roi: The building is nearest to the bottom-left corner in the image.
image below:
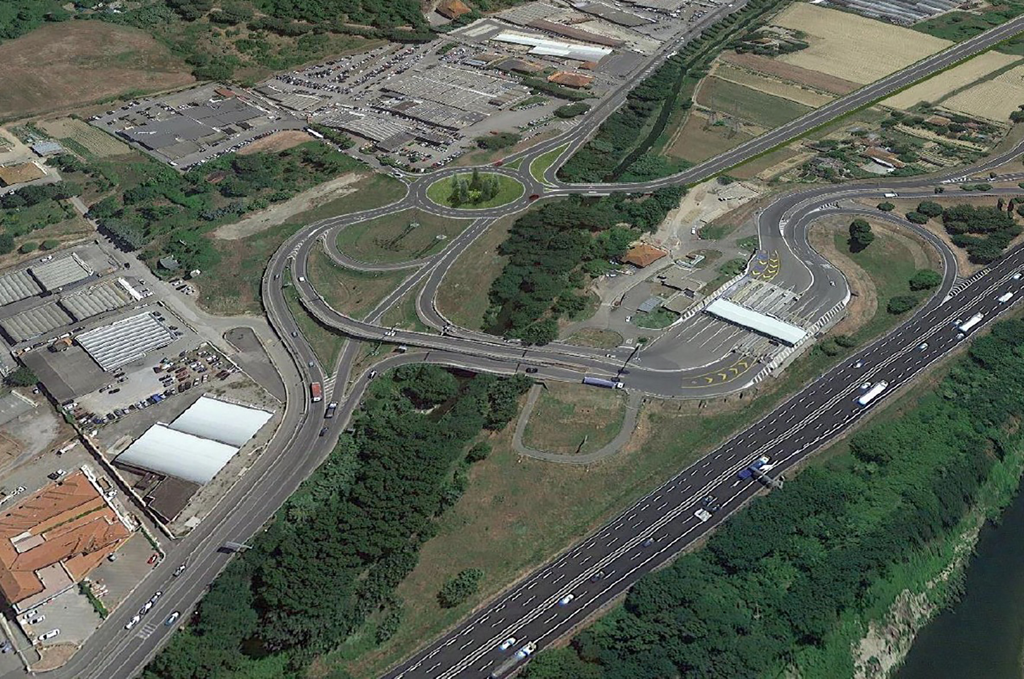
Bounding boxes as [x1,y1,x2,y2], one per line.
[0,468,137,616]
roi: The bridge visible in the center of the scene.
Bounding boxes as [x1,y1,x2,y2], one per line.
[289,248,635,380]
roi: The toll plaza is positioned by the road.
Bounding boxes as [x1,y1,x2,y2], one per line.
[620,239,848,396]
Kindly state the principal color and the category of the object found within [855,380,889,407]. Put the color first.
white truck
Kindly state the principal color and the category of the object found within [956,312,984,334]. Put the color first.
white truck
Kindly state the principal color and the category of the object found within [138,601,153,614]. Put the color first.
gray vehicle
